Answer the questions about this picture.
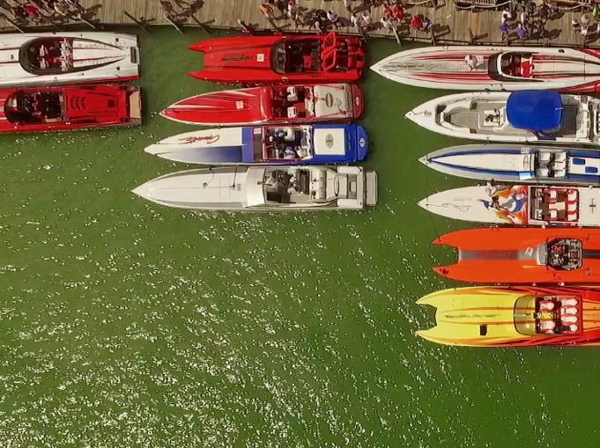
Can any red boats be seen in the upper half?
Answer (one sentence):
Yes, a red boat appears in the upper half.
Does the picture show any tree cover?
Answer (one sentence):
No, tree cover can't be seen anywhere here.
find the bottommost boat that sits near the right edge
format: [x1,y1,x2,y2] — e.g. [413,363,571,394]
[416,286,600,348]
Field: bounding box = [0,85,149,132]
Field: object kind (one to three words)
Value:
boat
